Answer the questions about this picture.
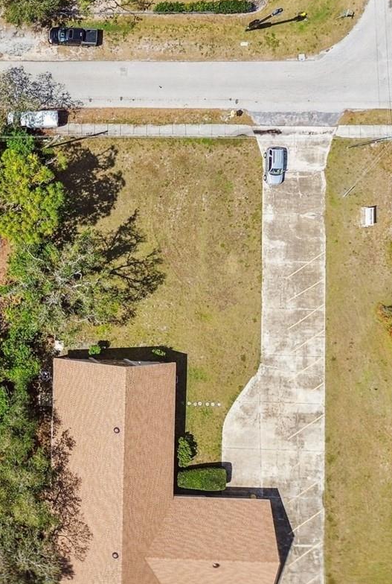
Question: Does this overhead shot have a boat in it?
No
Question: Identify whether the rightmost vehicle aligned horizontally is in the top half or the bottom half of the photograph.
top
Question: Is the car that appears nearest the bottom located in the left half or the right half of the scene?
right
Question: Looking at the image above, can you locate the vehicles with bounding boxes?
[7,109,59,128]
[49,26,98,45]
[264,147,285,185]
